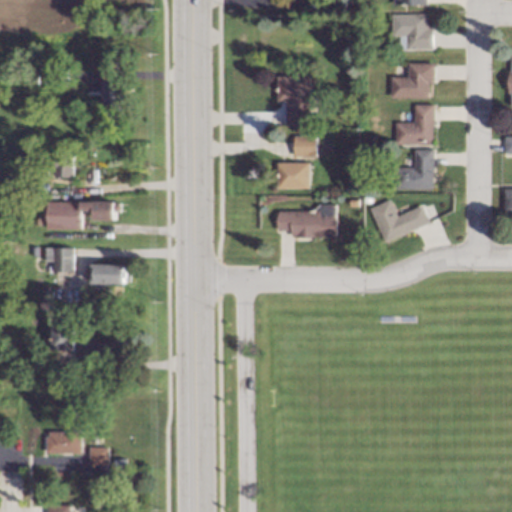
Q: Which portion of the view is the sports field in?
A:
bottom right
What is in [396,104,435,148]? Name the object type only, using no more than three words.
house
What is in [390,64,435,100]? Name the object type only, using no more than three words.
house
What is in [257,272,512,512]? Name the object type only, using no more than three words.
sports field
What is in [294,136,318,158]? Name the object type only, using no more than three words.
building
